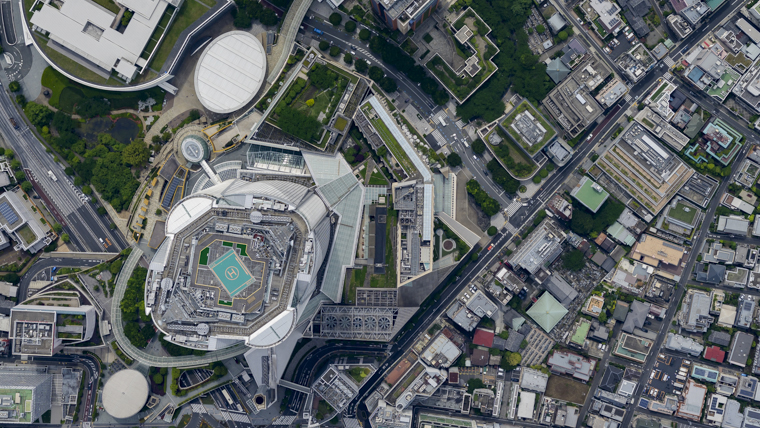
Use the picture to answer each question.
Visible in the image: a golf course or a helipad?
helipad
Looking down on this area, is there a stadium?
Yes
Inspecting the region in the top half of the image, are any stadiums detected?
Yes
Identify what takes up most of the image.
buildings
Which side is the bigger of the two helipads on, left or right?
left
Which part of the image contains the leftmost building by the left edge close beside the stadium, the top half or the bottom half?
top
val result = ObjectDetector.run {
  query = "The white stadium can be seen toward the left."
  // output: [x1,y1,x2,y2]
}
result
[193,30,267,113]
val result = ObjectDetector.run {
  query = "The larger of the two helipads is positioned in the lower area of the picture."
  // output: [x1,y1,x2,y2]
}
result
[191,233,269,314]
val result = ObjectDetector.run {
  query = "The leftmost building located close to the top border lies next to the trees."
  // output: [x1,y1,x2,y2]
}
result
[20,0,234,94]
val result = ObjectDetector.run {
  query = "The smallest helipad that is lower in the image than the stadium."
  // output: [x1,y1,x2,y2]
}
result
[209,250,255,296]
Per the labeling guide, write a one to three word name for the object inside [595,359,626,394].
house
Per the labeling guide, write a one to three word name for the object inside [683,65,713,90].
building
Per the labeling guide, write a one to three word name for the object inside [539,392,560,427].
house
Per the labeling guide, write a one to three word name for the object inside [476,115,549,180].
building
